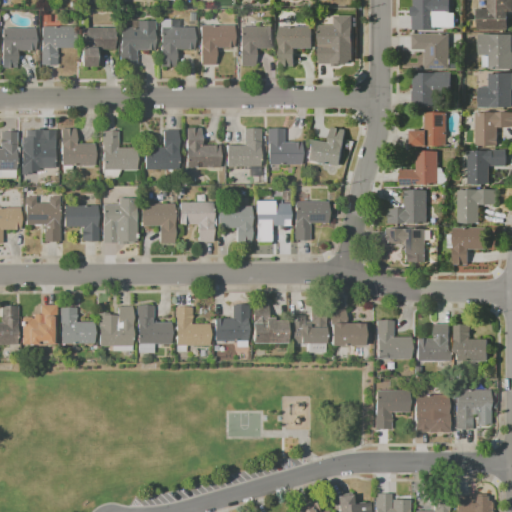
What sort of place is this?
residential area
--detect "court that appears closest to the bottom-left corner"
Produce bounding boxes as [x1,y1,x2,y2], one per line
[226,410,262,439]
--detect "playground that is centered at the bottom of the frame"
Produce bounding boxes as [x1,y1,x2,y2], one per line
[282,396,310,431]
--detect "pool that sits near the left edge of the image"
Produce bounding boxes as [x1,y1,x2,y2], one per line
[12,14,32,26]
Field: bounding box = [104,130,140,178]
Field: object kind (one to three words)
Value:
house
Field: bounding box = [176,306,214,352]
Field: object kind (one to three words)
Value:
house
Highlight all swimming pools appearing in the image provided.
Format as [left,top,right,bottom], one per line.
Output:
[448,112,460,136]
[12,14,32,26]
